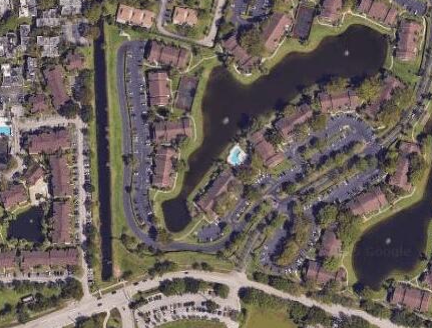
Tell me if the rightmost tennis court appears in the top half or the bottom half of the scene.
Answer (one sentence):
The rightmost tennis court is in the top half of the image.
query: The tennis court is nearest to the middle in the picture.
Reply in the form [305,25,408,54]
[175,75,198,112]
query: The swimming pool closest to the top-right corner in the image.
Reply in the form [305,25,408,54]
[228,145,246,165]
